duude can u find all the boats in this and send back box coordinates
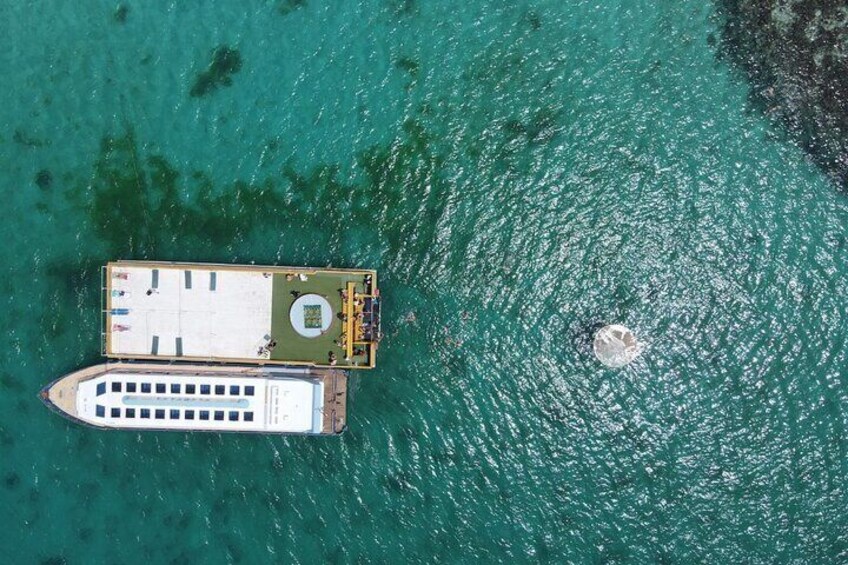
[37,363,349,435]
